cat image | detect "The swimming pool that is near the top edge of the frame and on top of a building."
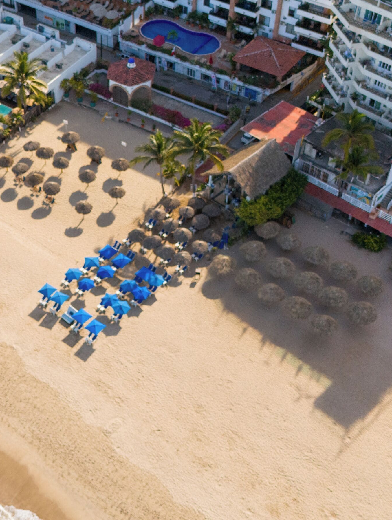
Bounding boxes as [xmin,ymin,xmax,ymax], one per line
[142,22,218,55]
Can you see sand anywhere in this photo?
Yes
